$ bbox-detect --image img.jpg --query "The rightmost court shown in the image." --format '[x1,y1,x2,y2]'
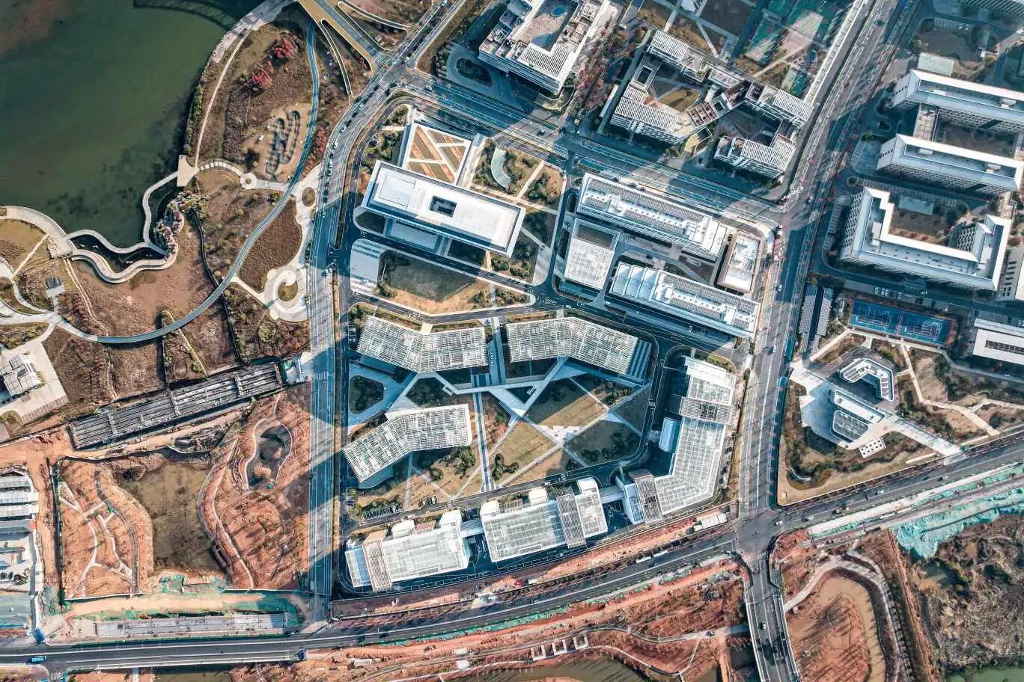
[899,311,954,346]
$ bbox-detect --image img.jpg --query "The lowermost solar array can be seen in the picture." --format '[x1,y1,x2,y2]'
[836,414,865,434]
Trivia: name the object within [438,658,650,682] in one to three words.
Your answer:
pond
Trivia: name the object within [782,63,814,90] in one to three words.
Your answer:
sports court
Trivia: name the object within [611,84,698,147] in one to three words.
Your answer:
building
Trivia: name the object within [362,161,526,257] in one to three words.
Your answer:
building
